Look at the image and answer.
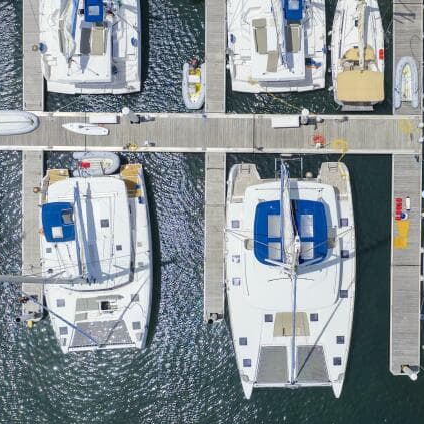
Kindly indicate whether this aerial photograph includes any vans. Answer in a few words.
No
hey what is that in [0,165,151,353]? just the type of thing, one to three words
boat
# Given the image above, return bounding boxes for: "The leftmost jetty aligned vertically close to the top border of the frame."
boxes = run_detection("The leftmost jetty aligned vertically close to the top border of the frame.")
[23,0,44,112]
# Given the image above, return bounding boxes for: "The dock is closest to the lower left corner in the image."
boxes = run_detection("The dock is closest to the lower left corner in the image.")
[22,151,44,321]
